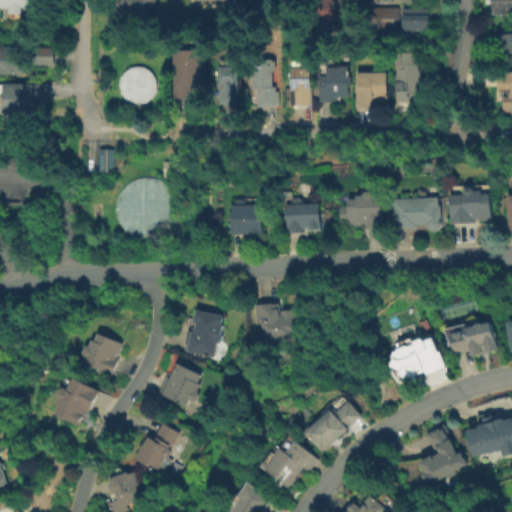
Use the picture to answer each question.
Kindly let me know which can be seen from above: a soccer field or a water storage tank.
water storage tank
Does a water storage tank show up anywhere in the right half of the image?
No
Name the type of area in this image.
residential area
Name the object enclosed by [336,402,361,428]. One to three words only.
building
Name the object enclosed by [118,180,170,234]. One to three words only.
water tank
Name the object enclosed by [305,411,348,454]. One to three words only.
house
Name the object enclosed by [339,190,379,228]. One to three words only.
house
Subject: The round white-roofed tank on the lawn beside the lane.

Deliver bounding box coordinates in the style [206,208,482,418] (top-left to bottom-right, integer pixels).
[120,66,158,104]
